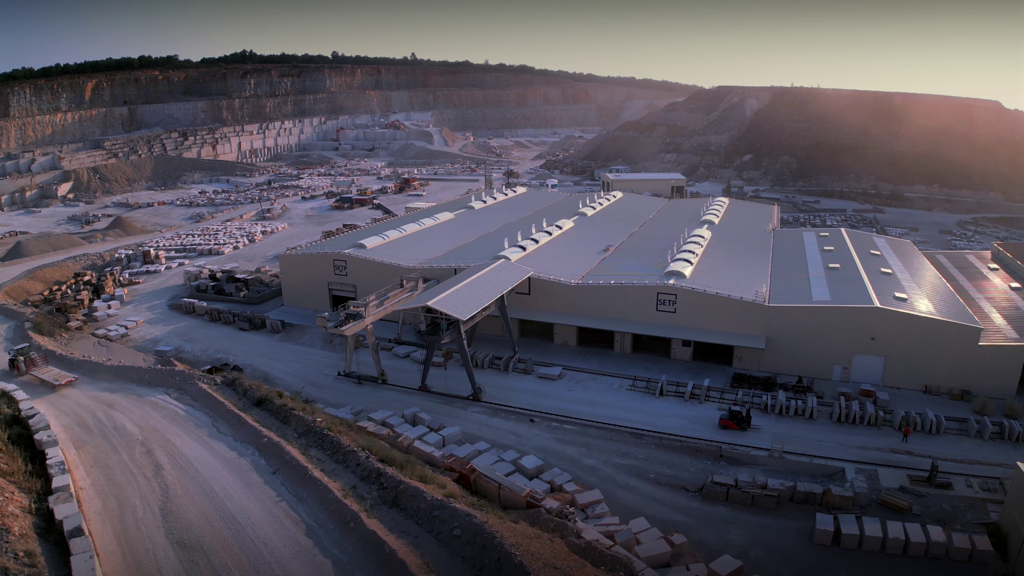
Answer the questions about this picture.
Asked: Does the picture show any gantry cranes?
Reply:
Yes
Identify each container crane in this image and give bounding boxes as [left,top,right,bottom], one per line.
[296,262,452,383]
[384,257,531,404]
